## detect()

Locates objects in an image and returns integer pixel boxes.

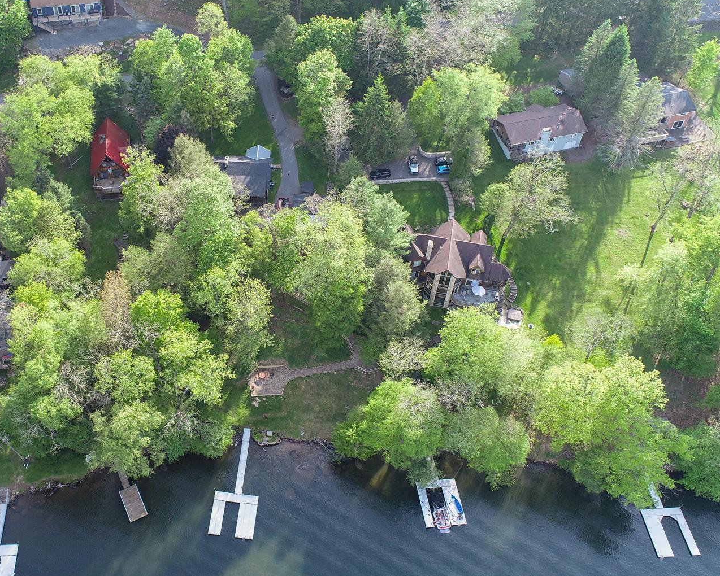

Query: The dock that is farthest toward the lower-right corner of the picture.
[637,483,704,560]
